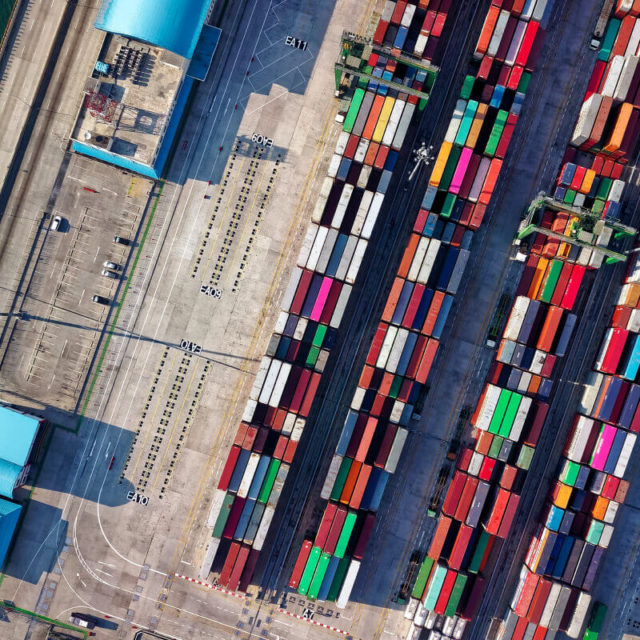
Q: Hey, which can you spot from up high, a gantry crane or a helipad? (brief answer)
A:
gantry crane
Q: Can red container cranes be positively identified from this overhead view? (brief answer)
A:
No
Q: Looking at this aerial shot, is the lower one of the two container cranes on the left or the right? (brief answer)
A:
right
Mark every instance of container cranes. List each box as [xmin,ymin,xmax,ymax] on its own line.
[329,26,445,127]
[512,186,640,272]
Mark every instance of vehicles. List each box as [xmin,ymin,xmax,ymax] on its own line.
[513,234,529,262]
[396,551,421,604]
[68,612,101,634]
[112,235,128,245]
[586,35,599,51]
[101,268,118,278]
[425,464,451,517]
[481,296,506,349]
[335,113,346,125]
[90,294,106,305]
[445,408,471,460]
[103,261,119,271]
[51,216,62,232]
[412,369,436,421]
